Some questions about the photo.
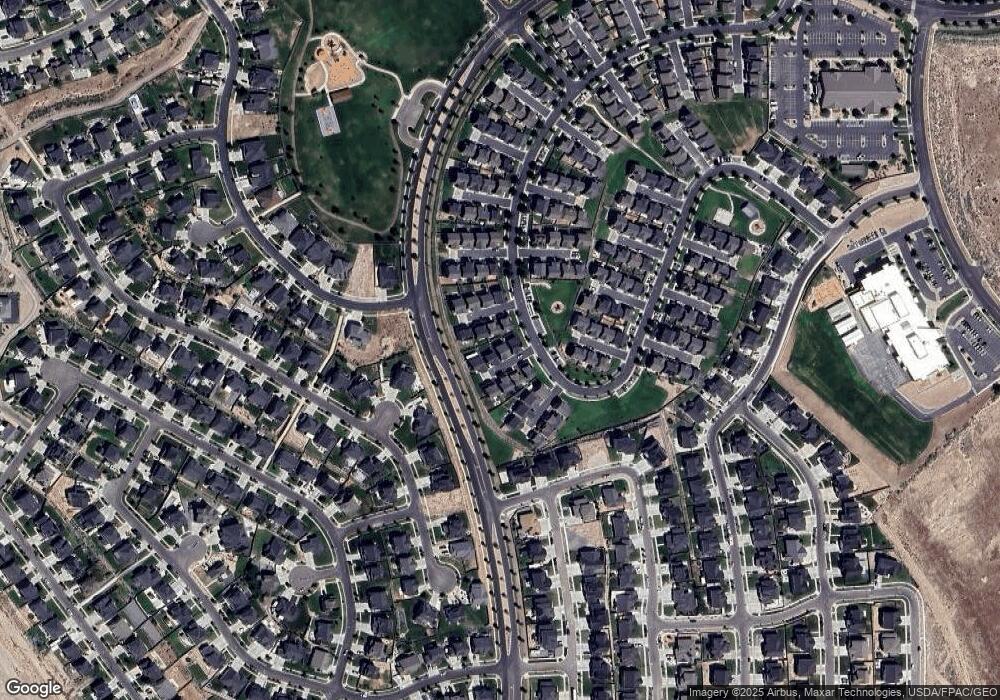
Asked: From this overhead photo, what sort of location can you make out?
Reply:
residential area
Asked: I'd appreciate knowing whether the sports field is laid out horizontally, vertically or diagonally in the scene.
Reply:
diagonally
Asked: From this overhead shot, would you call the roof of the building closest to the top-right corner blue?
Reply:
No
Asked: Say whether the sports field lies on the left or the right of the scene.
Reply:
right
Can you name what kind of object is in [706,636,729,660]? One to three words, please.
house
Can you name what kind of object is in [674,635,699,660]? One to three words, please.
house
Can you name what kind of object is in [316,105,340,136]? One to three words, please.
basketball court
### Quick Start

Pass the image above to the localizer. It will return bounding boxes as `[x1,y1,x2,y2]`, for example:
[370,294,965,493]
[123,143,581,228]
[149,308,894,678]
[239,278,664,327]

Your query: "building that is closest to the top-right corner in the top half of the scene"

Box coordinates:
[819,64,899,116]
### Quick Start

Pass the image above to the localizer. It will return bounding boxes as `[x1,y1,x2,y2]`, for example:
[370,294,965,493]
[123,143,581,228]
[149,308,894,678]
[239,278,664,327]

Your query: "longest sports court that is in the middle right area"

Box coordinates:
[850,330,910,398]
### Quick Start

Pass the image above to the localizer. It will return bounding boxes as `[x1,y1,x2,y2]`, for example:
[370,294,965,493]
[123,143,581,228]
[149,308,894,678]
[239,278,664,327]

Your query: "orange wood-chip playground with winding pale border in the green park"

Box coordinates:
[305,32,365,92]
